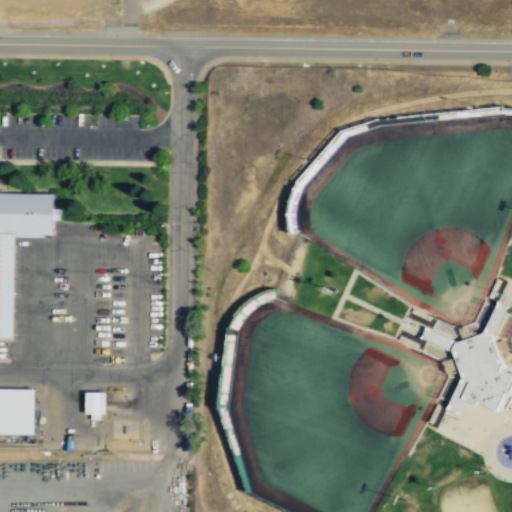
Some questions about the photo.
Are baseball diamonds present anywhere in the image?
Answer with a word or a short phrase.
Yes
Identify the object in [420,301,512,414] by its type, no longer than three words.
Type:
building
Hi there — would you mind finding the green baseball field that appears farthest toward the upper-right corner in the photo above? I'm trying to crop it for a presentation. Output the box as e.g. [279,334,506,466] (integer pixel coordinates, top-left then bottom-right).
[297,114,512,328]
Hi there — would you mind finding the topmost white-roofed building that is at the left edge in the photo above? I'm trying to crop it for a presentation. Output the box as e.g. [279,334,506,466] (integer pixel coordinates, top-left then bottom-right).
[0,193,64,339]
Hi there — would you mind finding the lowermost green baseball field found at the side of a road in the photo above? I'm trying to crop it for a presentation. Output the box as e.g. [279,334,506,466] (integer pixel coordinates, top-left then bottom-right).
[230,301,448,512]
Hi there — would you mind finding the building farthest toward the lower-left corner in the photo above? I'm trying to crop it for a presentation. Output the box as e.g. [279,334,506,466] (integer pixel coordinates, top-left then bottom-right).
[0,389,38,436]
